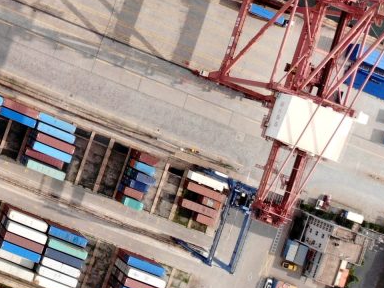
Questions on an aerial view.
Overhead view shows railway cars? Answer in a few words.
No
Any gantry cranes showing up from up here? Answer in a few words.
Yes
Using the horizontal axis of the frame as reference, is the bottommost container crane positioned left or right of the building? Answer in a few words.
left of it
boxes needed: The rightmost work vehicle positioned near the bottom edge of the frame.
[275,259,298,274]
